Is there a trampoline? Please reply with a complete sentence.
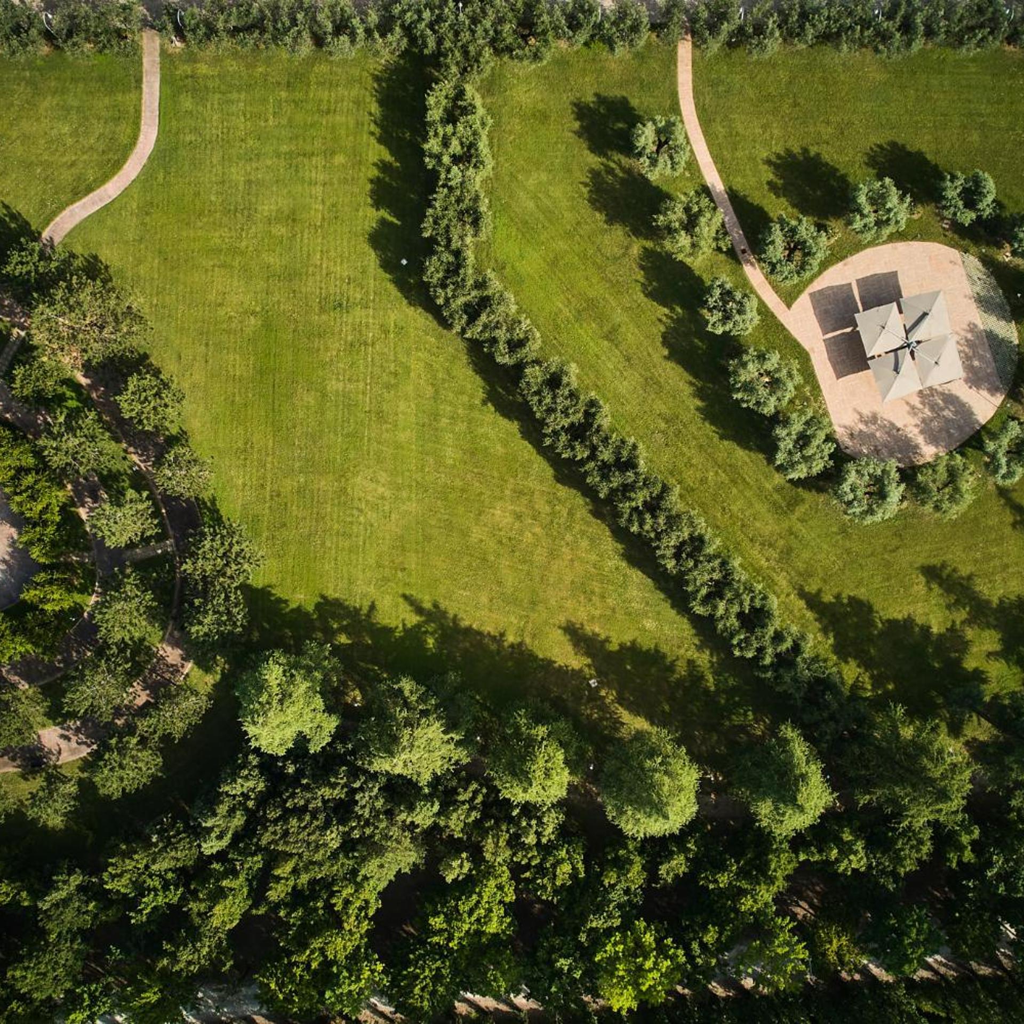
No, I can't see a single trampoline in this photo.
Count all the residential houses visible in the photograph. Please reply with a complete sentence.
The picture shows no residential houses.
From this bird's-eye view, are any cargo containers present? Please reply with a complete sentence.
No, no cargo container is visible in the view.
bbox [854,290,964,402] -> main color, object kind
white umbrella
